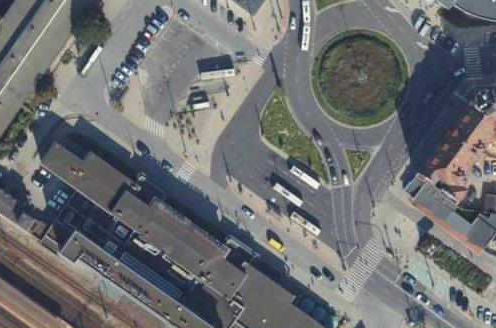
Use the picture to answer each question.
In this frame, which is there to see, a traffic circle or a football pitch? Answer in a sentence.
This aerial view contains a traffic circle.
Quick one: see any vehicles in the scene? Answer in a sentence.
Yes, there's a vehicle here.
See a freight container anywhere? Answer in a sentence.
No, I can't see a single freight container in this photo.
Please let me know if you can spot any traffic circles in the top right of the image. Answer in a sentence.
Yes, there is a traffic circle in the top right of the image.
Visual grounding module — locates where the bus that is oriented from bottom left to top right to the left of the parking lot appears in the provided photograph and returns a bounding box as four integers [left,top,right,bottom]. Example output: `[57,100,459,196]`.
[80,45,104,77]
